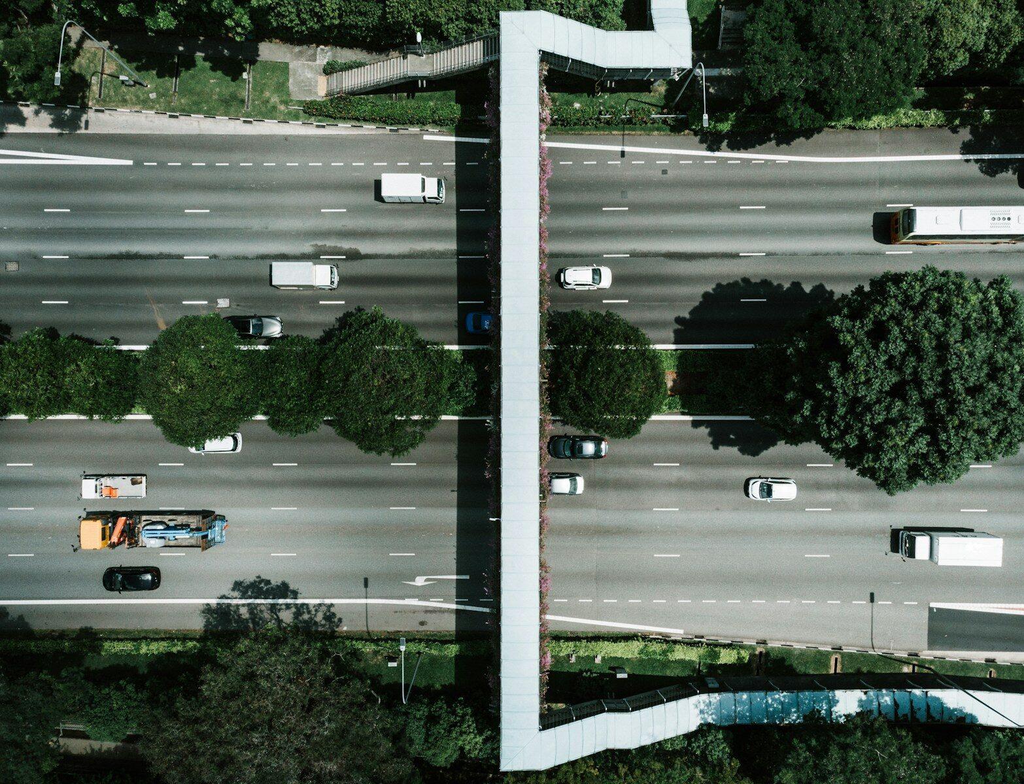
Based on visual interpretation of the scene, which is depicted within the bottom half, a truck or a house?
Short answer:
truck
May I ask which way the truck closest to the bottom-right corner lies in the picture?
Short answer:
from side to side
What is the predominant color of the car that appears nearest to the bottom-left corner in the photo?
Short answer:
black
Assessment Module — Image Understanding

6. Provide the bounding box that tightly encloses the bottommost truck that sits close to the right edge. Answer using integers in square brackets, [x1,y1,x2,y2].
[895,531,1005,567]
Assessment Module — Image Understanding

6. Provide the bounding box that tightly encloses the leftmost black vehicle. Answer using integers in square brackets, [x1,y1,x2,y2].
[103,567,162,595]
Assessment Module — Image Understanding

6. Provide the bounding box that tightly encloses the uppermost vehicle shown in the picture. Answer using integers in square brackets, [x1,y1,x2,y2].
[381,171,447,201]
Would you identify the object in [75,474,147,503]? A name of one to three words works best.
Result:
truck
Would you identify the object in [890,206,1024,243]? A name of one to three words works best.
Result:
bus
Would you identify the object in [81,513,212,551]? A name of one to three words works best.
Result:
truck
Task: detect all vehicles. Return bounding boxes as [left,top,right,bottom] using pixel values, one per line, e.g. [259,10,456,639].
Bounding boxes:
[895,531,1005,567]
[546,472,585,495]
[890,206,1024,243]
[465,311,494,334]
[549,434,609,461]
[747,477,801,503]
[558,263,614,289]
[81,513,212,551]
[223,312,282,339]
[381,171,447,201]
[103,567,162,595]
[75,474,147,503]
[188,432,242,456]
[270,261,341,290]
